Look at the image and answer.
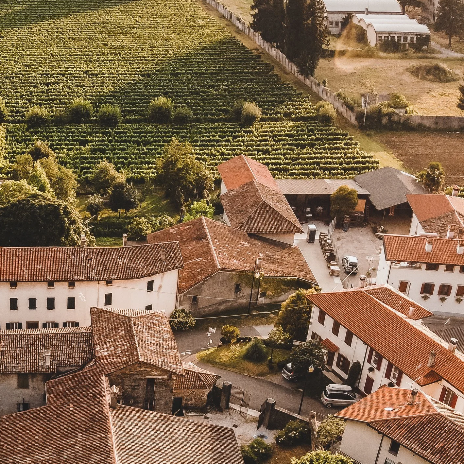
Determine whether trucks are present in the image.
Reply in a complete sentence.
No, the scene contains no truck.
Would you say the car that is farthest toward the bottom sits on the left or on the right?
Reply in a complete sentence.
The car that is farthest toward the bottom appears in the right half of the scene.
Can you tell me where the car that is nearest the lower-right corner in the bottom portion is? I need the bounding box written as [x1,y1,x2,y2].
[320,384,364,407]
